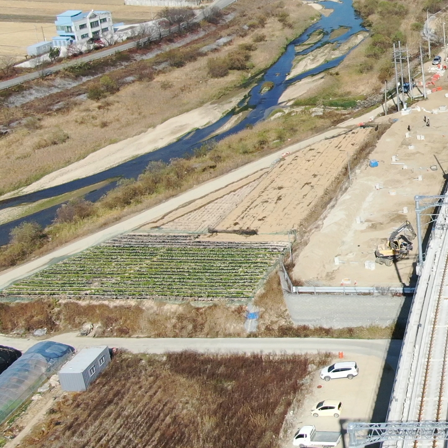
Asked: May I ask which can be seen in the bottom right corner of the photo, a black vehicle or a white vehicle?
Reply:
white vehicle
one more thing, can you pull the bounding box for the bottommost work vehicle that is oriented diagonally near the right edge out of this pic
[372,219,432,265]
